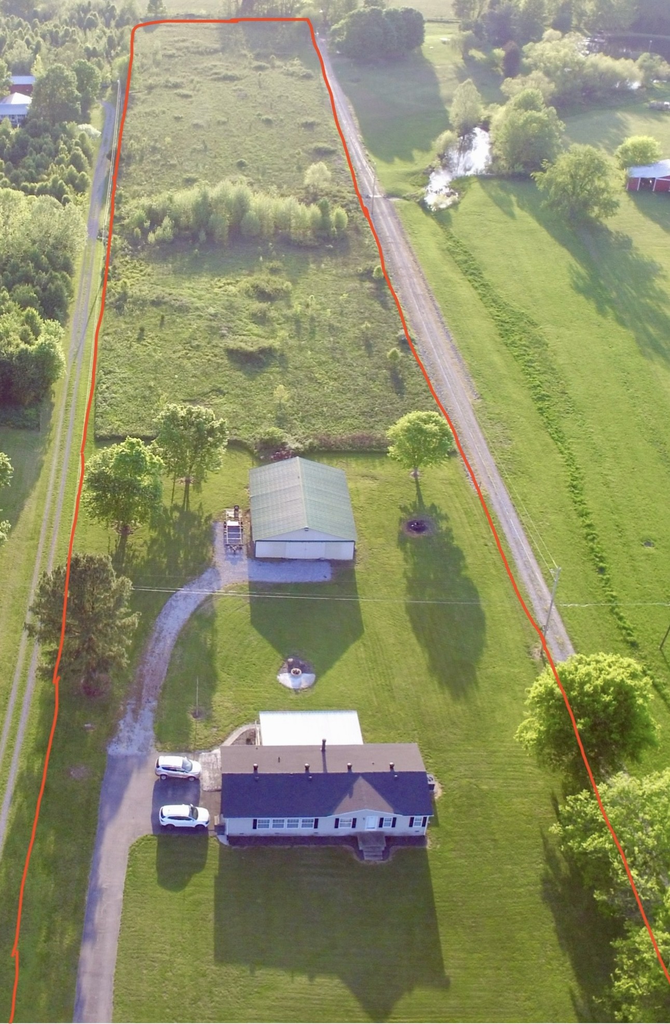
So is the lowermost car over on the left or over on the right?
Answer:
left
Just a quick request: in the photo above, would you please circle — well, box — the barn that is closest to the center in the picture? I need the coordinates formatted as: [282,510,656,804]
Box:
[253,457,361,559]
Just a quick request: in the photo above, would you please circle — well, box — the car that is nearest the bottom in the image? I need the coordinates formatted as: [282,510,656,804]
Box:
[159,805,209,832]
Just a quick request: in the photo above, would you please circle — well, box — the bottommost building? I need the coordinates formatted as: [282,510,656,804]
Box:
[222,743,433,835]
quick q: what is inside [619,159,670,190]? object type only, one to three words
barn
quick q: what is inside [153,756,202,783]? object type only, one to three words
car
